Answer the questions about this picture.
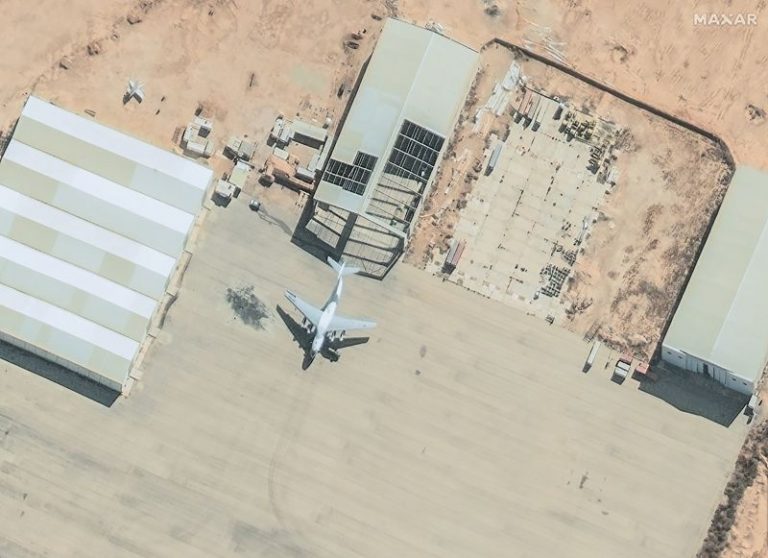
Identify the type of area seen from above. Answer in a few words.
airport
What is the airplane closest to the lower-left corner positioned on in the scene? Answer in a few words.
apron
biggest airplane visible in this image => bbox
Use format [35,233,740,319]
[286,256,377,362]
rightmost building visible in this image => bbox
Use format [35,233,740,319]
[663,164,768,396]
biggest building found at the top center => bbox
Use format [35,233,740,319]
[314,17,479,249]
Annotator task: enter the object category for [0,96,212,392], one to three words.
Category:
hangar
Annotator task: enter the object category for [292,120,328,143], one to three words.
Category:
shed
